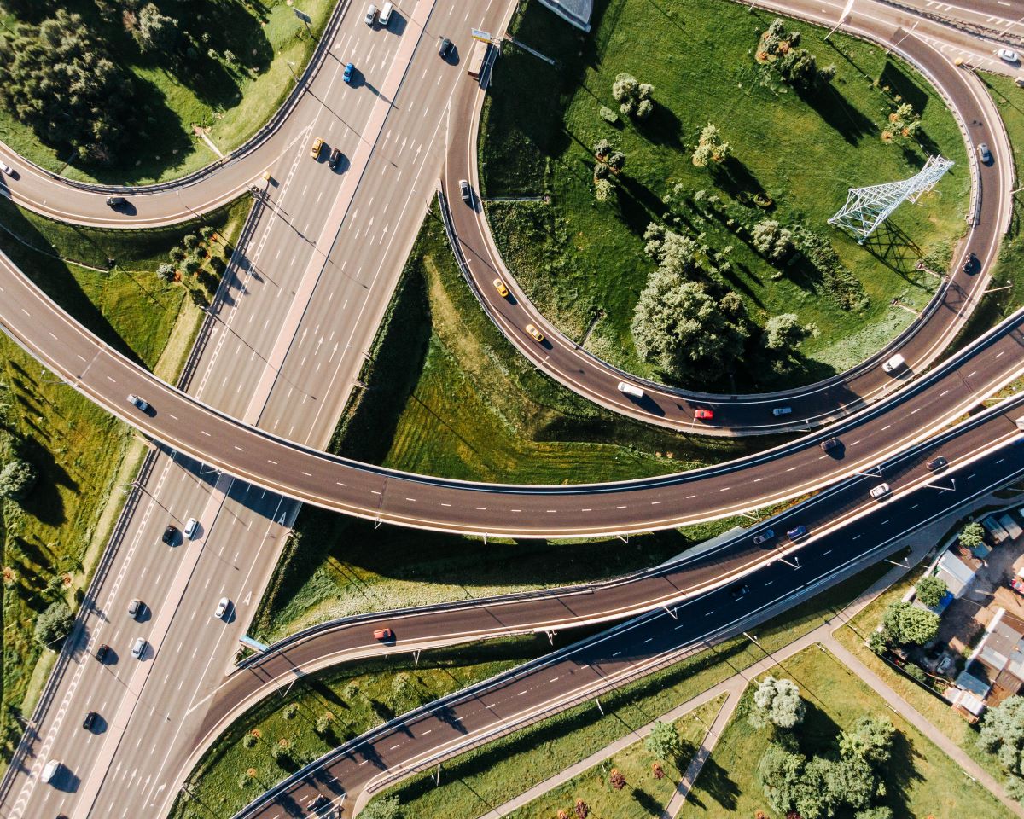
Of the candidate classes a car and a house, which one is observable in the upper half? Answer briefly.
car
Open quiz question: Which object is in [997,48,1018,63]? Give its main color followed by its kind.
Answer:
white car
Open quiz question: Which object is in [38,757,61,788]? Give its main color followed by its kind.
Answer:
white truck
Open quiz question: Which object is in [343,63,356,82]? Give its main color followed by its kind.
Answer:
blue vehicle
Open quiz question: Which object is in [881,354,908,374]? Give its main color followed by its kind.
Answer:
white vehicle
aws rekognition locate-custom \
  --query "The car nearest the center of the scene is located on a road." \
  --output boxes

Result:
[525,323,544,342]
